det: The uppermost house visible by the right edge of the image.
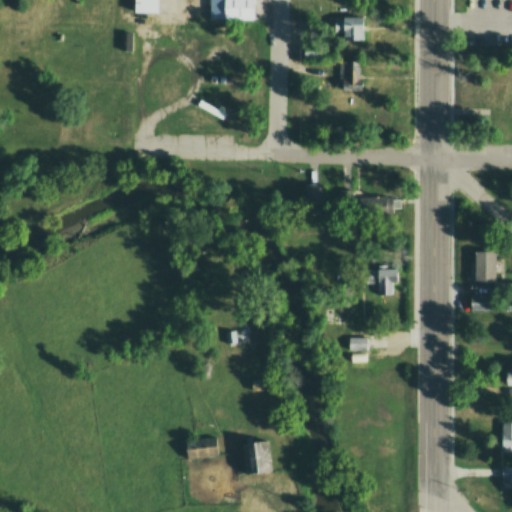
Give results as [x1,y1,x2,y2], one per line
[476,252,505,282]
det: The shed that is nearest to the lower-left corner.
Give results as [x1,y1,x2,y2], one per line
[187,437,220,460]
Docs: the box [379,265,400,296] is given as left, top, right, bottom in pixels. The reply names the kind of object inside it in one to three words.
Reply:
house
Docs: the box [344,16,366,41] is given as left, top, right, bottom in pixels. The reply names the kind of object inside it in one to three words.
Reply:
house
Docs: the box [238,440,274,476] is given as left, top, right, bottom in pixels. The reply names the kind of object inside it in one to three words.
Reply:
barn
